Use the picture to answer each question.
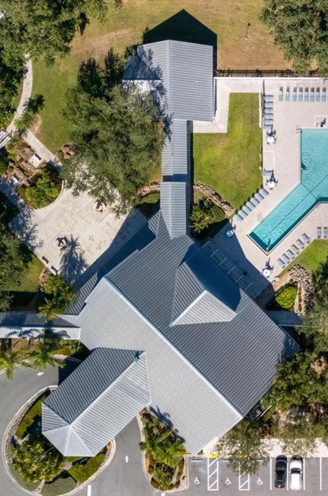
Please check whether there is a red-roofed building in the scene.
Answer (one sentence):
No, no red-roofed building can be seen from above.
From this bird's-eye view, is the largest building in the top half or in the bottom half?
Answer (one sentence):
It is in the bottom half that the largest building appears.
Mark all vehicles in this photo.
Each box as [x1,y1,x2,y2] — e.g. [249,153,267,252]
[273,457,287,488]
[288,457,303,488]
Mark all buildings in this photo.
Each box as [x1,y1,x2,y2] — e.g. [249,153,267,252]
[121,39,213,122]
[42,210,299,455]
